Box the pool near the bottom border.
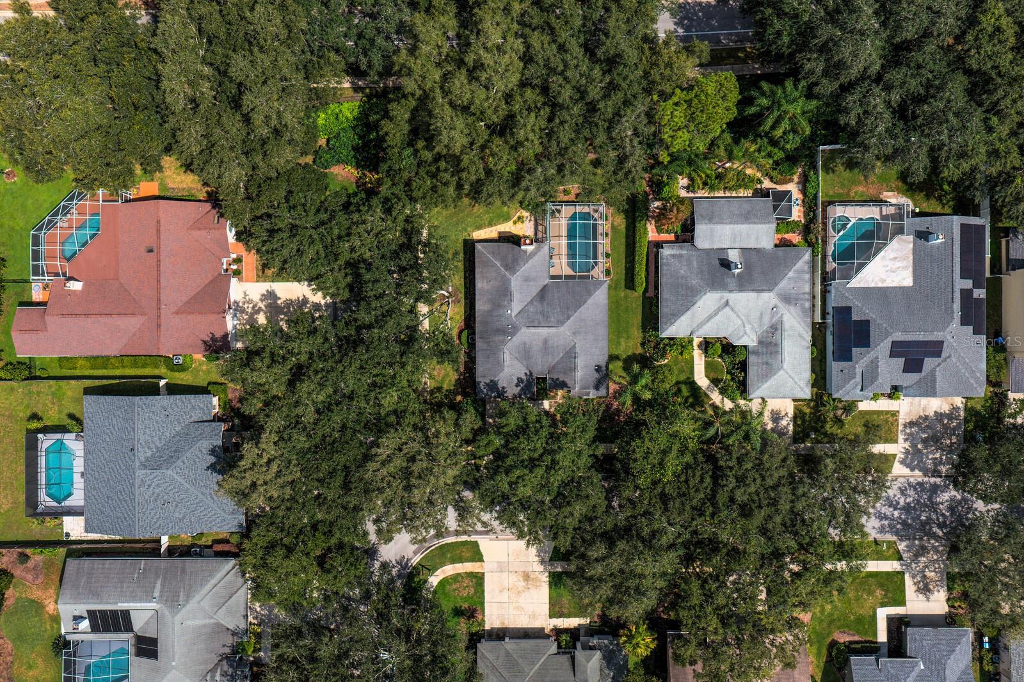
[85,645,133,682]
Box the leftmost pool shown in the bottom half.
[43,437,78,507]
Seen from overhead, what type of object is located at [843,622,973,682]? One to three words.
house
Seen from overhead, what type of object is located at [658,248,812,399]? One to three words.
house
